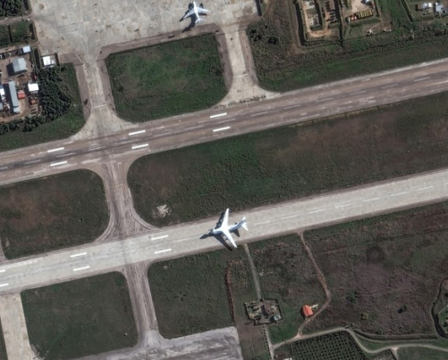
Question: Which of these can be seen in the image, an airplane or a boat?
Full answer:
I can see an airplane in this picture.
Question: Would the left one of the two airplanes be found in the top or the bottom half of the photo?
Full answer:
You can find the left one of the two airplanes in the top half.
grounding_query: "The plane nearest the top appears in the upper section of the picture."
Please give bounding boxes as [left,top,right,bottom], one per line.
[184,0,210,24]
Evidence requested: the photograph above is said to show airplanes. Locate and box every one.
[184,0,210,24]
[210,207,248,246]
